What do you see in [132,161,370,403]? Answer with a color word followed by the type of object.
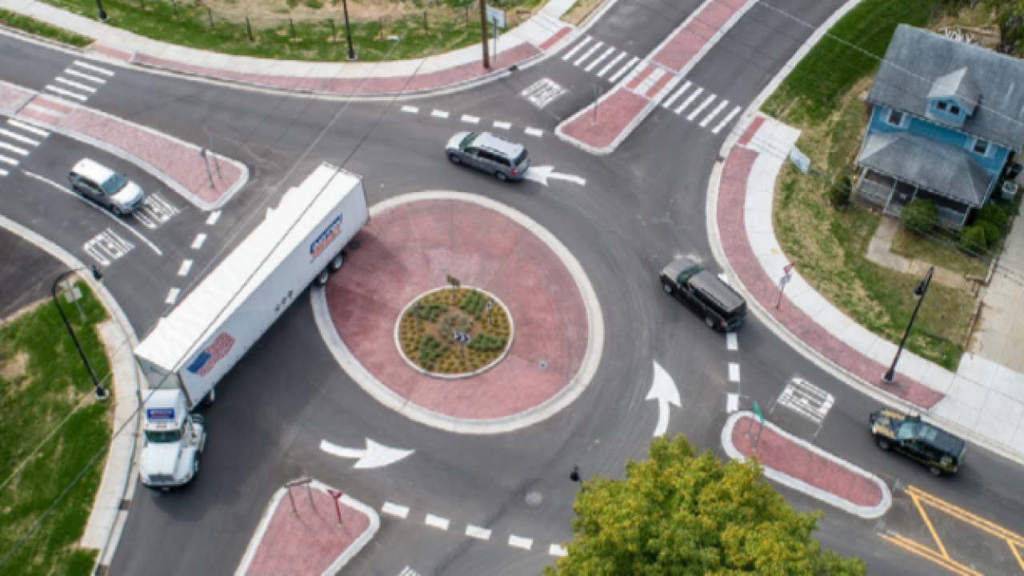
white trailer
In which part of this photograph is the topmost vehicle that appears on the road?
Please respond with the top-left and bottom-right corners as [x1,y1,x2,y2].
[443,130,533,182]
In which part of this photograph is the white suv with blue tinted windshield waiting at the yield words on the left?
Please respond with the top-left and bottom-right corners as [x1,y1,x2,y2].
[64,154,146,214]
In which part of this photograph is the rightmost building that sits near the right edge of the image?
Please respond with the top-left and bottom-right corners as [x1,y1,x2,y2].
[848,22,1024,242]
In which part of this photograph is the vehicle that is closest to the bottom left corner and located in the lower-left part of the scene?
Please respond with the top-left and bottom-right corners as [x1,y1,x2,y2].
[131,377,214,490]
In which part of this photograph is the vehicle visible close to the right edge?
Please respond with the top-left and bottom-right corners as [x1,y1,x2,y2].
[866,403,977,482]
